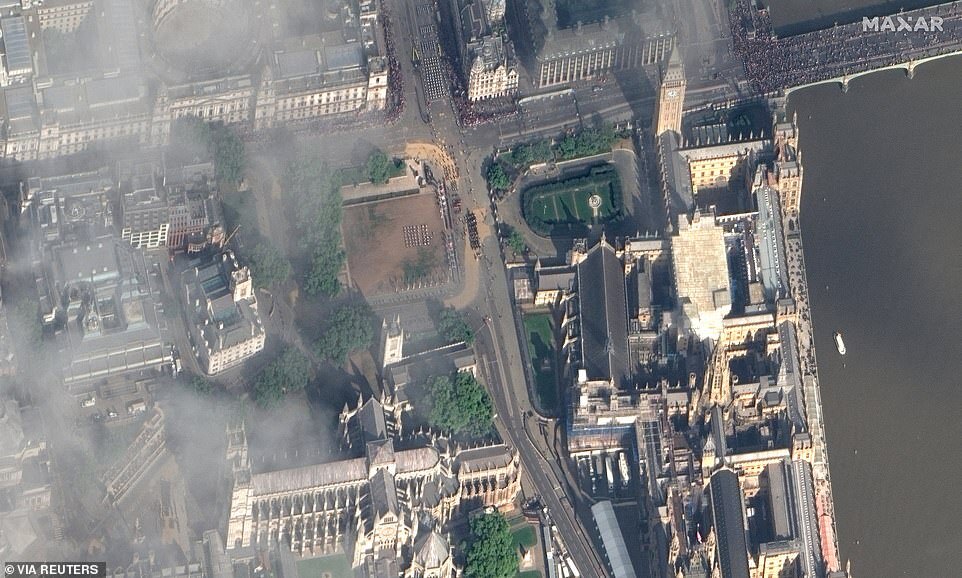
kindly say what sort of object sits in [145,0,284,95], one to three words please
building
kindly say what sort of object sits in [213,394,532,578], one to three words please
church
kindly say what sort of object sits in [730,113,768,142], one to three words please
building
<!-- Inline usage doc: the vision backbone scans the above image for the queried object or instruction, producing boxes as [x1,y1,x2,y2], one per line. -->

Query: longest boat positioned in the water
[833,337,846,361]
